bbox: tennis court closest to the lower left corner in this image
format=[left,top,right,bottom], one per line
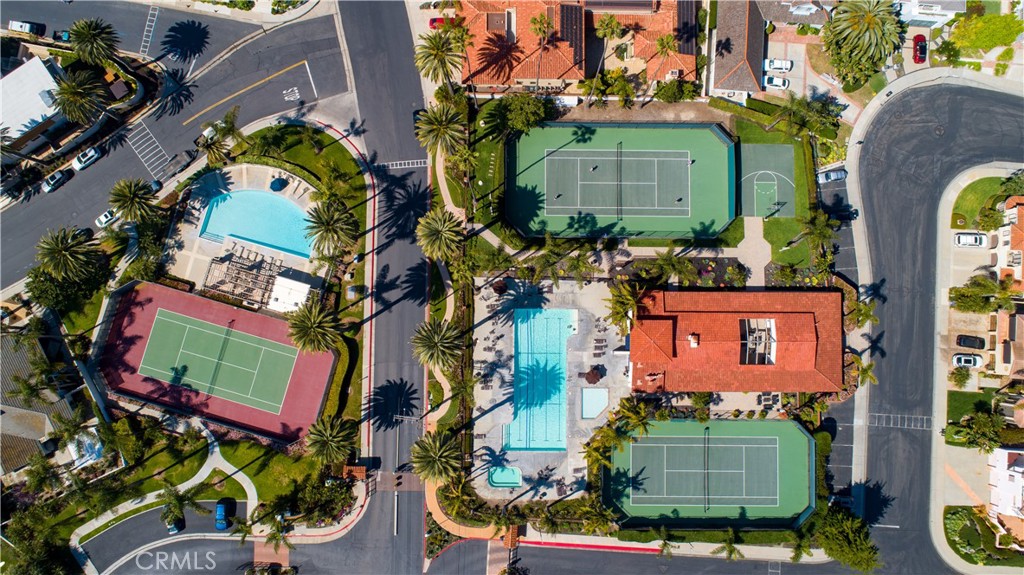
[102,284,336,440]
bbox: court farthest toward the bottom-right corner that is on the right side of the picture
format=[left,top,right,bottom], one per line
[603,418,809,523]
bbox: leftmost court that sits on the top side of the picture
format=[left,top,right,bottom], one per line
[506,128,727,236]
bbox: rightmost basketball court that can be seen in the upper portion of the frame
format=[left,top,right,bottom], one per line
[741,143,795,217]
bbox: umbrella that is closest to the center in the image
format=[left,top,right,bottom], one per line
[494,282,507,295]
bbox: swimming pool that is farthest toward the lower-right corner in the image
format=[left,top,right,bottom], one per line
[580,386,611,421]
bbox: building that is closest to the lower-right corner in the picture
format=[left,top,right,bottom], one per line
[987,445,1024,515]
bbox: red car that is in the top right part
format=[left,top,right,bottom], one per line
[912,34,929,64]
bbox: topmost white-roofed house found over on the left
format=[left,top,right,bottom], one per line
[0,43,84,171]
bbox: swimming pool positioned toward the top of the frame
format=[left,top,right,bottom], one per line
[197,189,314,260]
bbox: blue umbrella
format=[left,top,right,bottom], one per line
[270,175,288,192]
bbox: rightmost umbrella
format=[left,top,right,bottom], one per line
[585,369,600,384]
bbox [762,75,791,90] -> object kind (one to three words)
car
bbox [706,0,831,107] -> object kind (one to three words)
house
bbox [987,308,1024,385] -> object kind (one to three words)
house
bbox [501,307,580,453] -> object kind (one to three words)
swimming pool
